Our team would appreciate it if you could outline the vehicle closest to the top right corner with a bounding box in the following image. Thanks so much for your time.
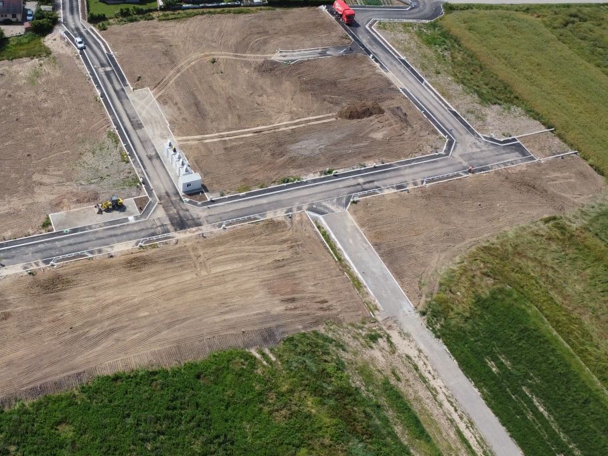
[329,0,360,23]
